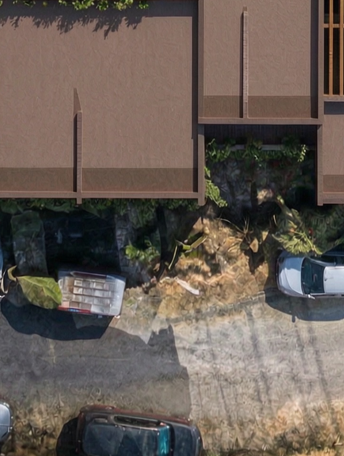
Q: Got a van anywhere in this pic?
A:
Yes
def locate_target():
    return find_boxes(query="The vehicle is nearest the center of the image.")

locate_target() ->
[56,261,129,318]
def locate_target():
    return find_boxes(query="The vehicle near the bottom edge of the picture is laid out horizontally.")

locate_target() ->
[77,399,201,456]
